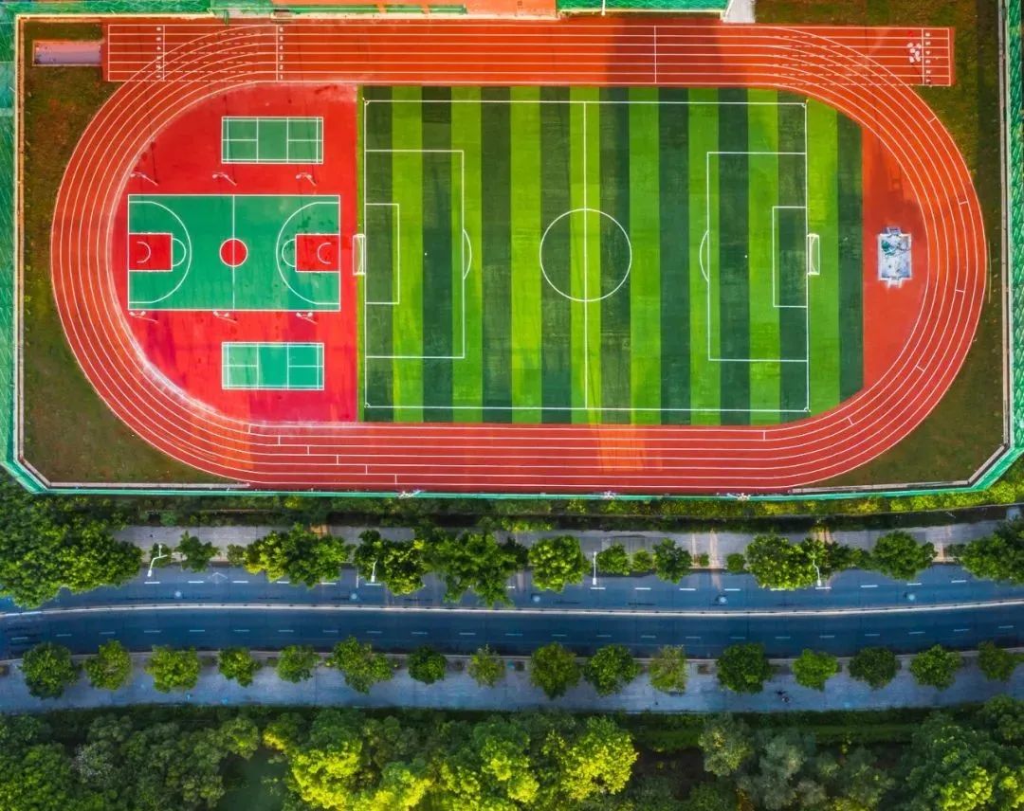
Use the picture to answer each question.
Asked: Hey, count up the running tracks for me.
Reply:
one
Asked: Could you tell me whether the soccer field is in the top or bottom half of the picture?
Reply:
top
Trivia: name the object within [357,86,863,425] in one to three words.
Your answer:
soccer field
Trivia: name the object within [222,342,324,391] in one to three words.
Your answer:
sports court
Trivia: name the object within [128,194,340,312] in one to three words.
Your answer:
basketball court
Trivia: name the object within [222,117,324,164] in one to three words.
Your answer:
sports court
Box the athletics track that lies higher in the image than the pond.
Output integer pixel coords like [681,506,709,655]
[50,17,987,491]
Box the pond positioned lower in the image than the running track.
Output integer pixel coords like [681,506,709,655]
[225,754,285,811]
